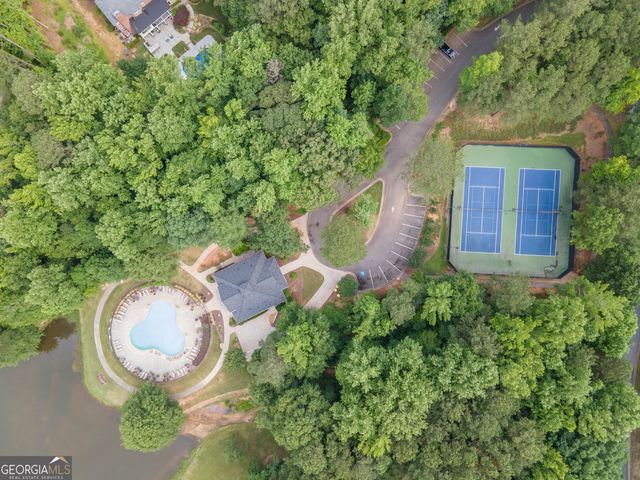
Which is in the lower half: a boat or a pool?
pool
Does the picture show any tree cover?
Yes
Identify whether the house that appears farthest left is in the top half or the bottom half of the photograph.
top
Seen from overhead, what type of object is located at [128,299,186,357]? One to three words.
swimming pool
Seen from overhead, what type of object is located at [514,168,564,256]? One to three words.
tennis court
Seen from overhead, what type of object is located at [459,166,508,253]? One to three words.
tennis court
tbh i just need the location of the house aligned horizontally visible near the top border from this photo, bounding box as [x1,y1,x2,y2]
[95,0,171,36]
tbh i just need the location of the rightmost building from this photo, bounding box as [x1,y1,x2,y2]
[214,251,288,324]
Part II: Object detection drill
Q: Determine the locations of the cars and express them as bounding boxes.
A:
[441,42,456,58]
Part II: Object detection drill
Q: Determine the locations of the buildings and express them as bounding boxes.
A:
[95,0,171,36]
[214,251,288,324]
